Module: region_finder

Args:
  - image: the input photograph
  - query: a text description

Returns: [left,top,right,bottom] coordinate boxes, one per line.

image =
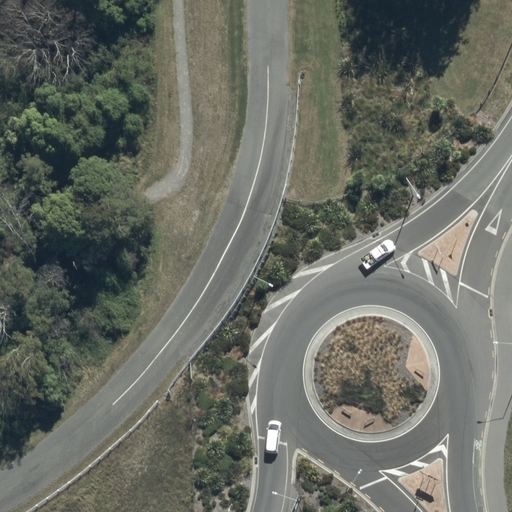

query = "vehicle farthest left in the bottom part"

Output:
[266,420,282,456]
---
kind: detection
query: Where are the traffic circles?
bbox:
[248,106,512,512]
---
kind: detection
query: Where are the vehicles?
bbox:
[266,420,282,456]
[360,240,396,269]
